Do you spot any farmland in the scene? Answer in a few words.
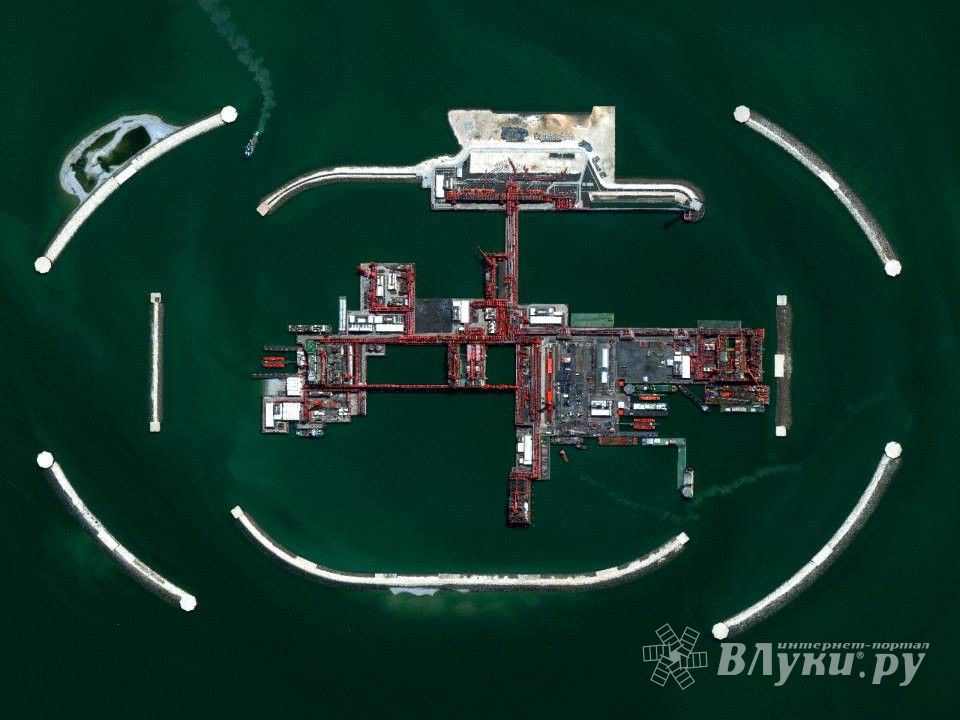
No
